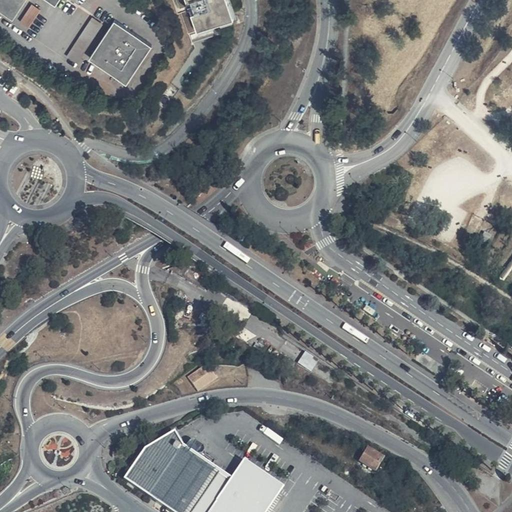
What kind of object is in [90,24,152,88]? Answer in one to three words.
building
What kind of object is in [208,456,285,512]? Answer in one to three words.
building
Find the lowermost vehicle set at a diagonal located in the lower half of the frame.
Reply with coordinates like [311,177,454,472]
[320,486,339,501]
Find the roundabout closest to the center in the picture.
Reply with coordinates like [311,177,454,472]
[242,136,334,228]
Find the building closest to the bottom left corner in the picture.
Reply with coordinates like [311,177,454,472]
[125,429,232,512]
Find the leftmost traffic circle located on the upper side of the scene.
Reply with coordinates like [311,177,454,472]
[0,134,84,226]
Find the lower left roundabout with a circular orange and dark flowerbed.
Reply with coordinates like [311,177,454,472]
[20,414,96,490]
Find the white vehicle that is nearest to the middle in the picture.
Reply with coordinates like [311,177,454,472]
[221,240,252,264]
